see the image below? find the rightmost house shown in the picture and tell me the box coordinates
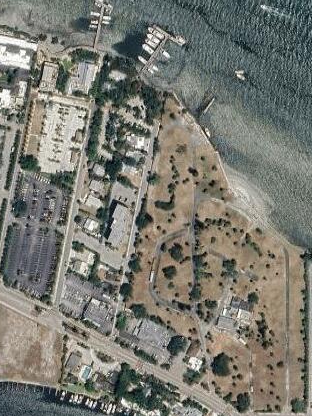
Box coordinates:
[217,298,251,330]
